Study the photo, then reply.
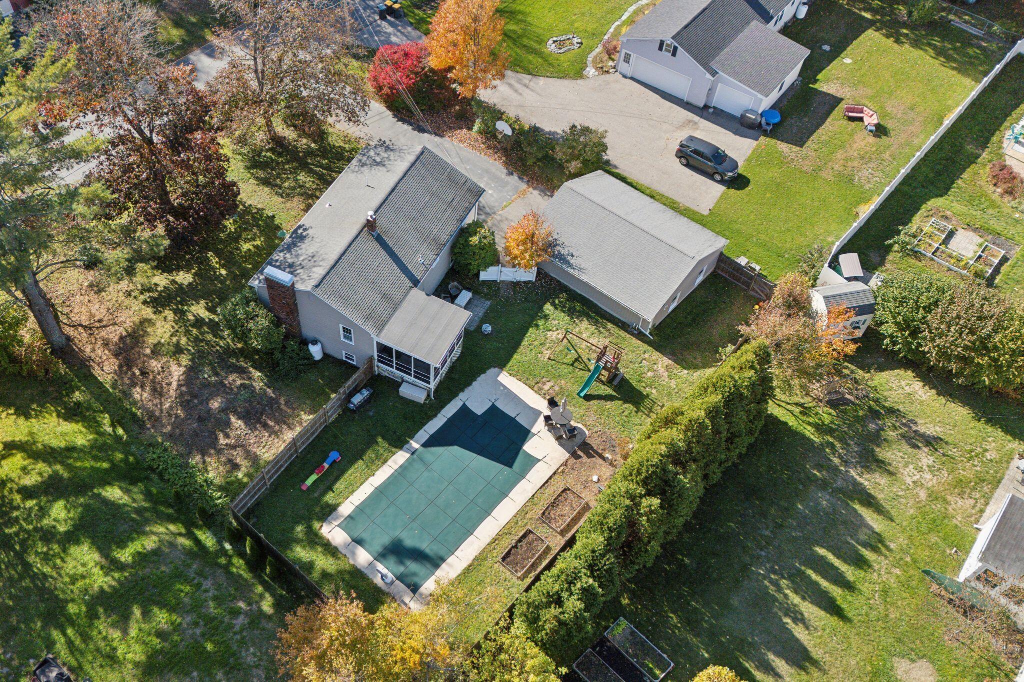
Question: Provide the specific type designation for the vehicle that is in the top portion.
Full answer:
It looks like the vehicle that is in the top portion is an automobile.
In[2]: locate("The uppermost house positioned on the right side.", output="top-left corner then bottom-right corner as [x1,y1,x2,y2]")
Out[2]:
[617,0,809,114]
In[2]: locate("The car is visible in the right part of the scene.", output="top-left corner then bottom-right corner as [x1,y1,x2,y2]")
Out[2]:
[674,132,741,181]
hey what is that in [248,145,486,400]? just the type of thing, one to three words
house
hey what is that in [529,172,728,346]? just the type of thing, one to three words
building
